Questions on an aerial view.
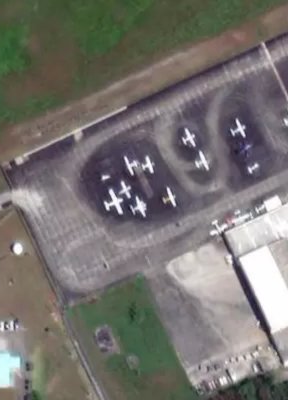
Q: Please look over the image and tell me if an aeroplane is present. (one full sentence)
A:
Yes, the image includes an aeroplane.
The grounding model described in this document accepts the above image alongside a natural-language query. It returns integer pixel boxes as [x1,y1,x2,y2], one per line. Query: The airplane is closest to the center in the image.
[130,196,147,217]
